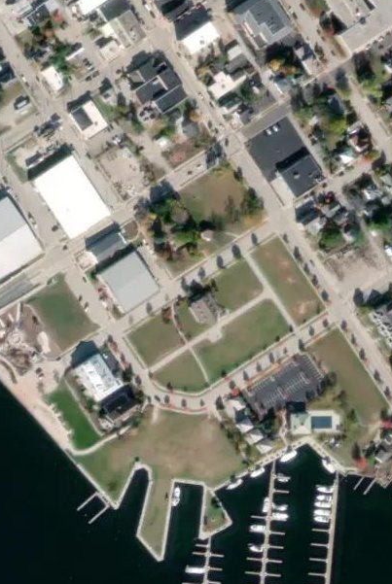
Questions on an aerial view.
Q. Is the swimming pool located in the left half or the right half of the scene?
right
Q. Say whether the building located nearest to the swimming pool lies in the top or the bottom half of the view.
bottom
